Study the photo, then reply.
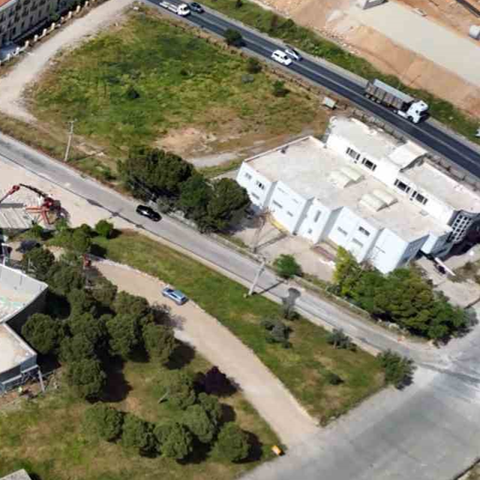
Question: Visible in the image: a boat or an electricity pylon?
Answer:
electricity pylon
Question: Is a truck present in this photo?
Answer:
Yes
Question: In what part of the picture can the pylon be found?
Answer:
center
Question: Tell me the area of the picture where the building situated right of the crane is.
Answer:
right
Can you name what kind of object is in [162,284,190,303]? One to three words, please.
car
